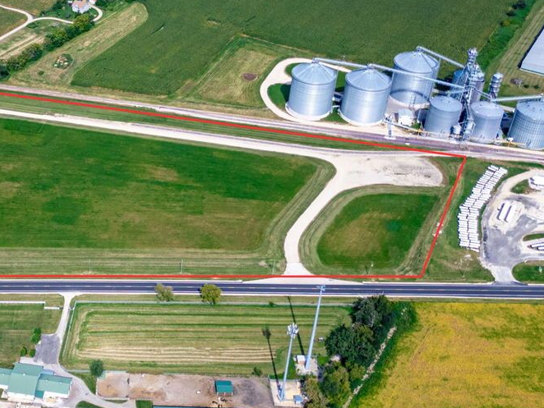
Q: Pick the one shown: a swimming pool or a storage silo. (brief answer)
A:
storage silo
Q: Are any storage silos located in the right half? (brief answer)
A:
Yes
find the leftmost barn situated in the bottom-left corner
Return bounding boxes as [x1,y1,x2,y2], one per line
[0,363,74,401]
